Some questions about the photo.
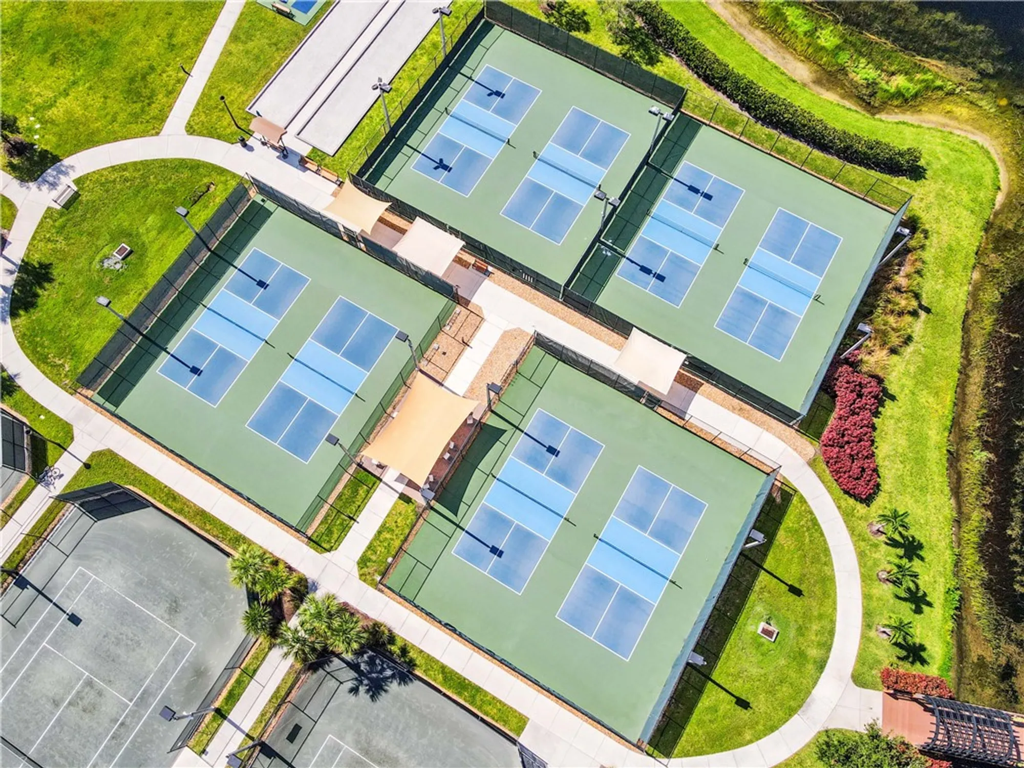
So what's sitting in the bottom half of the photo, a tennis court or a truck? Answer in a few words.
tennis court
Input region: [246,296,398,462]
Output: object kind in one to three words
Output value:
sports court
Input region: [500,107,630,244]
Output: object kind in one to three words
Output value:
sports court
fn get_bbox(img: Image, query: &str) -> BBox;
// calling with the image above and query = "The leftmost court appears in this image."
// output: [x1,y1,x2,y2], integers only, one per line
[0,410,26,501]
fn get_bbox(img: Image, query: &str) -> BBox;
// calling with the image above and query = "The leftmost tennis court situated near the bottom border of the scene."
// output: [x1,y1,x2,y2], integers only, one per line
[0,493,248,768]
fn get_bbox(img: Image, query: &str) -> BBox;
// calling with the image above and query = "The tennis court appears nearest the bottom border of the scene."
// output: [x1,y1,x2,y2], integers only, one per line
[248,649,517,768]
